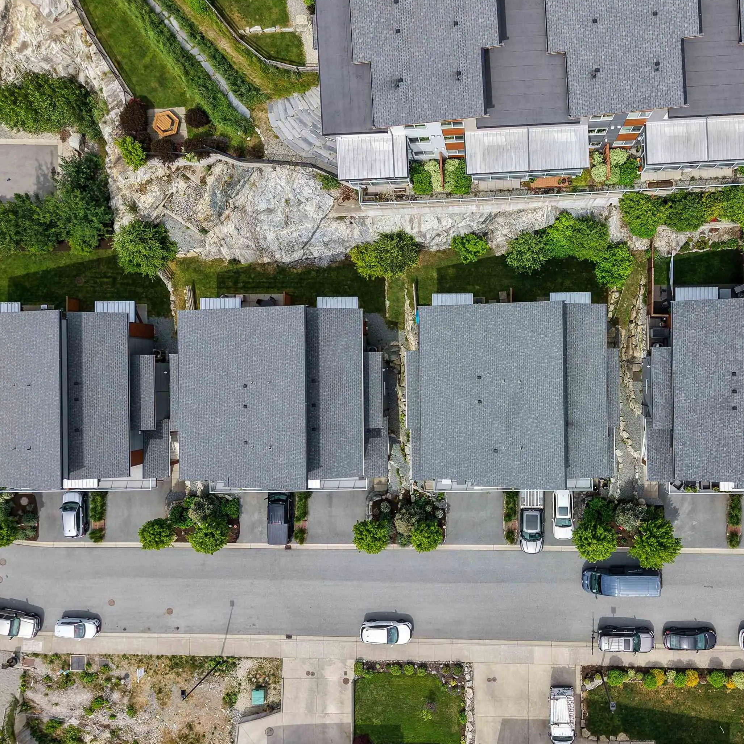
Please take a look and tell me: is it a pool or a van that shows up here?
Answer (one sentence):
I can see a van in this picture.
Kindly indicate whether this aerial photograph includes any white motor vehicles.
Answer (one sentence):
Yes, a white motor vehicle appears in the view.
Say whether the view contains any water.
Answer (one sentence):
No, water can't be seen anywhere here.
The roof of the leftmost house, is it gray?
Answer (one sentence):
Yes, the roof of the leftmost house is indeed gray.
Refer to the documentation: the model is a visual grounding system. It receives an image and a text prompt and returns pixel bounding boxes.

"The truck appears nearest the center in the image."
[268,489,296,546]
